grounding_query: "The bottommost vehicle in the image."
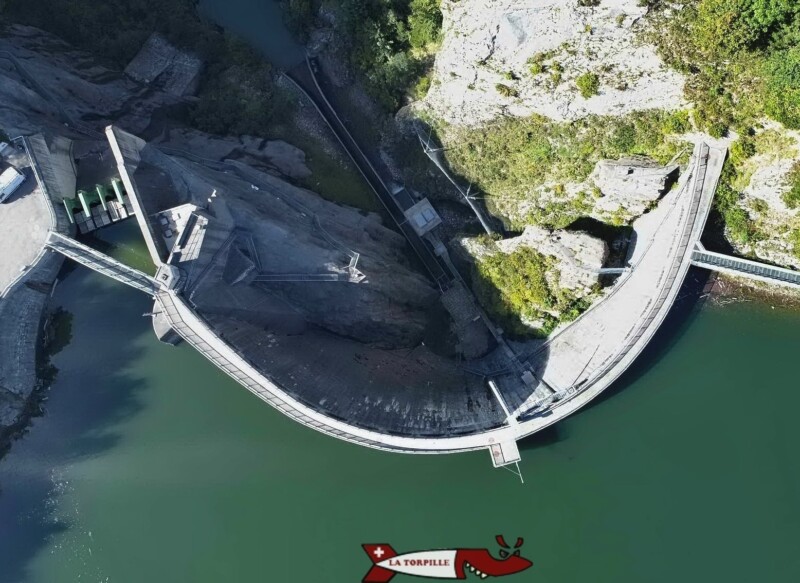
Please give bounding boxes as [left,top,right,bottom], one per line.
[0,167,27,205]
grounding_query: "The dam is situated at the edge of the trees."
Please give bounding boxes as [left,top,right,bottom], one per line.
[162,140,727,456]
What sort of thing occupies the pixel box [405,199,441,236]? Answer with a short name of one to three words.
shed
